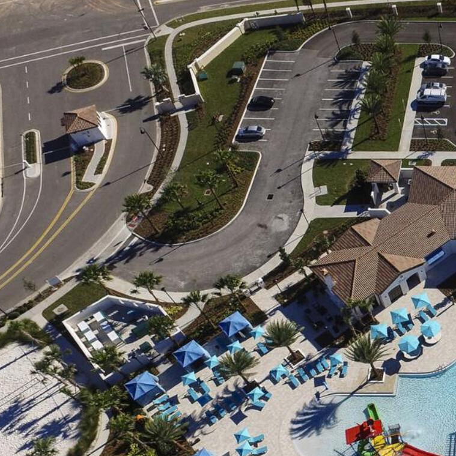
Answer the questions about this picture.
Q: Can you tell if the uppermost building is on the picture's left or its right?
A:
left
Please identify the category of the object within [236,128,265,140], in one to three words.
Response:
vehicle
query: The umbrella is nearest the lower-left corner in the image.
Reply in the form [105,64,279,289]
[182,371,199,388]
